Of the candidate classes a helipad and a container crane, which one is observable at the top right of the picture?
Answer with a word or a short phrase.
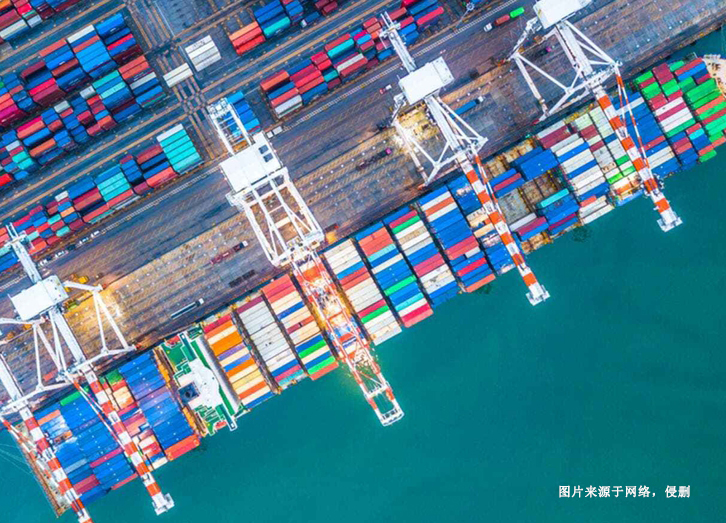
container crane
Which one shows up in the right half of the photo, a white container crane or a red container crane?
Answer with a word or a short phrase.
white container crane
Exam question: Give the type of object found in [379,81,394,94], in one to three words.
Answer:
vehicle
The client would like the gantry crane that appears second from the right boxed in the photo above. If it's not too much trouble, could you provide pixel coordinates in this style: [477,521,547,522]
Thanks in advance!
[376,7,554,305]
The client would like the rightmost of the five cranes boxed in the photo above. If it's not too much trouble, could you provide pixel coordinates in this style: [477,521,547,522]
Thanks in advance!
[495,0,686,232]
